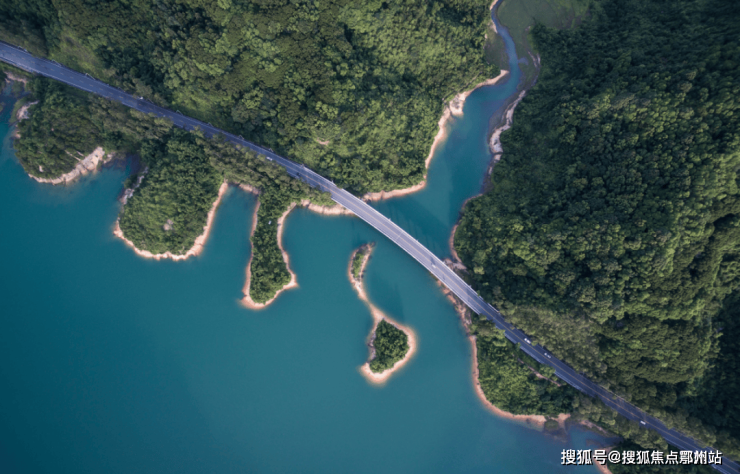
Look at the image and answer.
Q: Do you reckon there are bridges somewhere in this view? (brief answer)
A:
Yes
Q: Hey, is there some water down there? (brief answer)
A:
Yes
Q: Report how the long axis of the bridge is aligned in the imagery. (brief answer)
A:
diagonally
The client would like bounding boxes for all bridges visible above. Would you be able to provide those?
[307,169,508,319]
